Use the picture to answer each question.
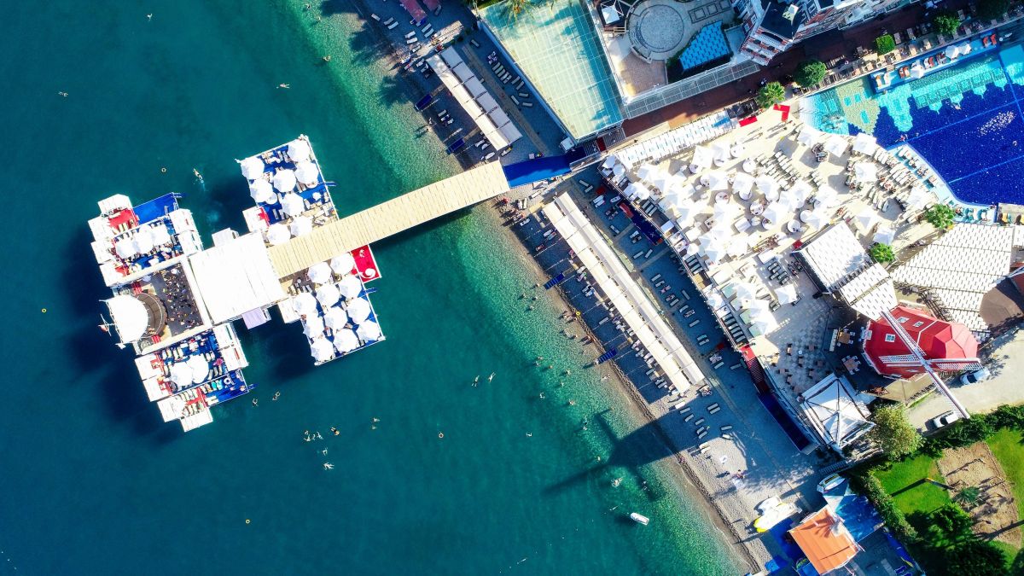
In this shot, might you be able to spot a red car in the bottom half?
No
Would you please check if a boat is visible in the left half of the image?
No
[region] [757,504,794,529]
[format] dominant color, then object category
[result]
white boat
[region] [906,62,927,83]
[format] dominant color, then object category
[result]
white umbrella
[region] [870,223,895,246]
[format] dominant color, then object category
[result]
white umbrella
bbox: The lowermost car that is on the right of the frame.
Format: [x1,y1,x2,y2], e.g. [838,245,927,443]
[934,411,959,427]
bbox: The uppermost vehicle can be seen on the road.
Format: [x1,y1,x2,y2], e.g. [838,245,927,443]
[963,368,988,384]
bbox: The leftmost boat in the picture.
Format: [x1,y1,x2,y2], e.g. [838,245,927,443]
[629,511,649,525]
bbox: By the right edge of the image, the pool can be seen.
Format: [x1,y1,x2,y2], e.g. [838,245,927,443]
[799,18,1024,206]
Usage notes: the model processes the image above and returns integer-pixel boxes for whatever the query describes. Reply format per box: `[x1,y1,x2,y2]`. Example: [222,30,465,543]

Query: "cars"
[934,411,959,427]
[963,368,988,384]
